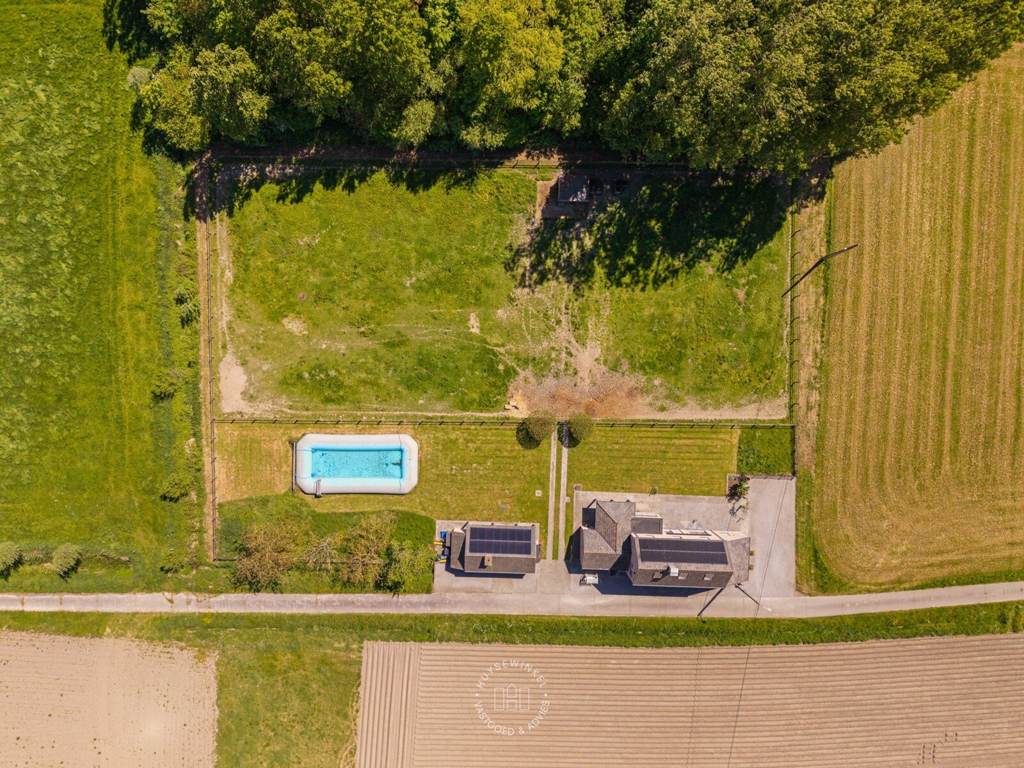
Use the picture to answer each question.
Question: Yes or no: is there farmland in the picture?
Yes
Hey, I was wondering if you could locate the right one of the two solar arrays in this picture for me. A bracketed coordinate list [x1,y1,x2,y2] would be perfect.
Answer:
[639,539,728,565]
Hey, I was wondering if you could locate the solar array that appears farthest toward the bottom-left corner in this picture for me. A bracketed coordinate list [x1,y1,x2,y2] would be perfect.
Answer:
[469,527,531,555]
